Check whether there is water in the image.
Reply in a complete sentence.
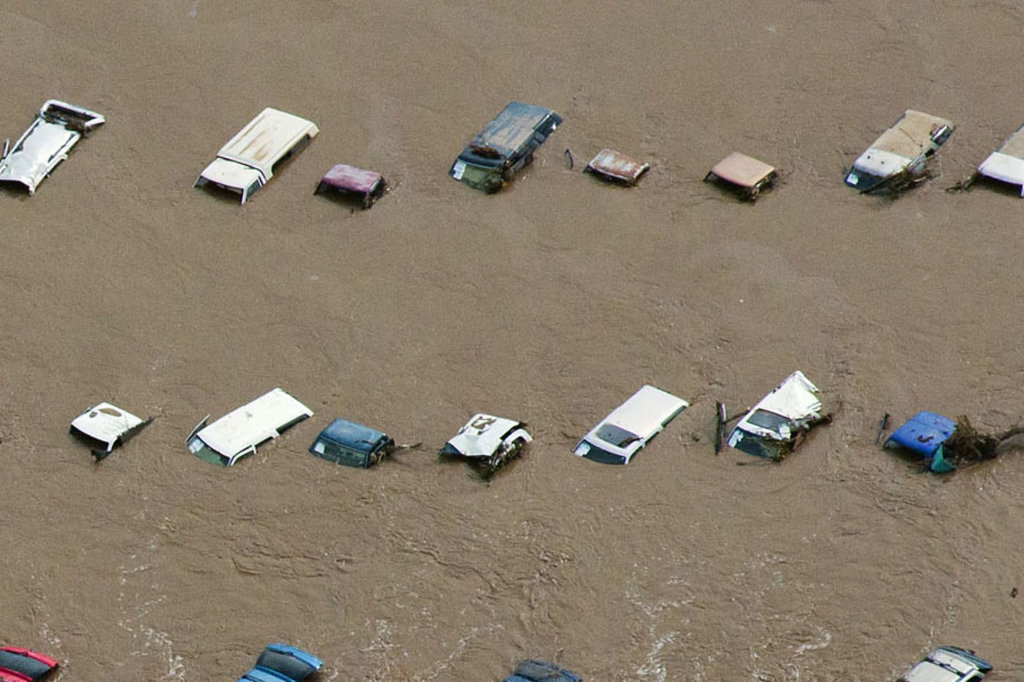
Yes, the picture does contain water.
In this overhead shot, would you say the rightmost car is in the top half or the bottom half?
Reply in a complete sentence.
It is in the top half that the rightmost car appears.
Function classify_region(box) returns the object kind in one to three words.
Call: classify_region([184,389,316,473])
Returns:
vehicle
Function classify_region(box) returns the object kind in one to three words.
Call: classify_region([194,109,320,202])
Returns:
truck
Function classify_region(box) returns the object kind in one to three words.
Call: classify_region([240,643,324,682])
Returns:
car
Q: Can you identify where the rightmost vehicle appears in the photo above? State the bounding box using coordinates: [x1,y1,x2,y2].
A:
[975,120,1024,197]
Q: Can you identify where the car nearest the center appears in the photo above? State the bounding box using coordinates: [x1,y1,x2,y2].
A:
[442,413,531,465]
